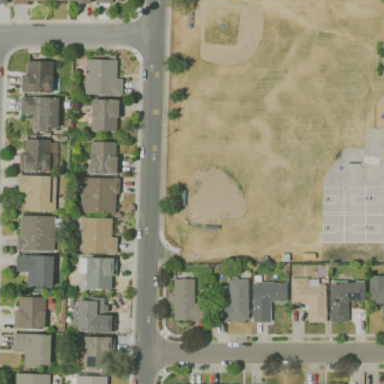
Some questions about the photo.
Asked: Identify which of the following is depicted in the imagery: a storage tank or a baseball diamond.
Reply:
baseball diamond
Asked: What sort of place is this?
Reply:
residential area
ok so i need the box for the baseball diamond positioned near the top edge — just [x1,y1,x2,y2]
[200,0,263,64]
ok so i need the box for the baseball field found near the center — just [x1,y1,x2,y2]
[184,167,246,224]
